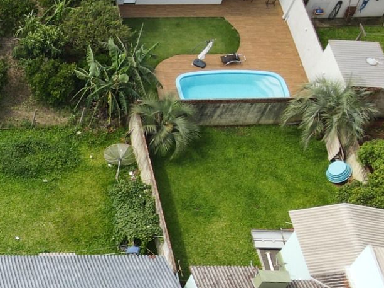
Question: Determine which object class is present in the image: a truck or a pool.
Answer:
pool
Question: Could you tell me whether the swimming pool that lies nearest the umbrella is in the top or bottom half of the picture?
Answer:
top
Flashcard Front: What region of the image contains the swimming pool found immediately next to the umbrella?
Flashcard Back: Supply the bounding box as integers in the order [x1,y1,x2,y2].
[178,70,290,98]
